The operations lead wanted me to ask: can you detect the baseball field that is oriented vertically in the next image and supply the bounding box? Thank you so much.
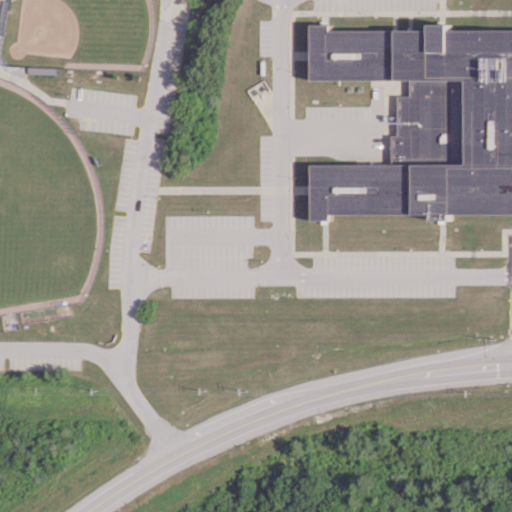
[0,78,104,316]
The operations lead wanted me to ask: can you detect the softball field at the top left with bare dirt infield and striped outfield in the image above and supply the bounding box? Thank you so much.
[10,0,155,70]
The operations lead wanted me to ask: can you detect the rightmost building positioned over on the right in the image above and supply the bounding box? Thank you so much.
[308,22,512,225]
